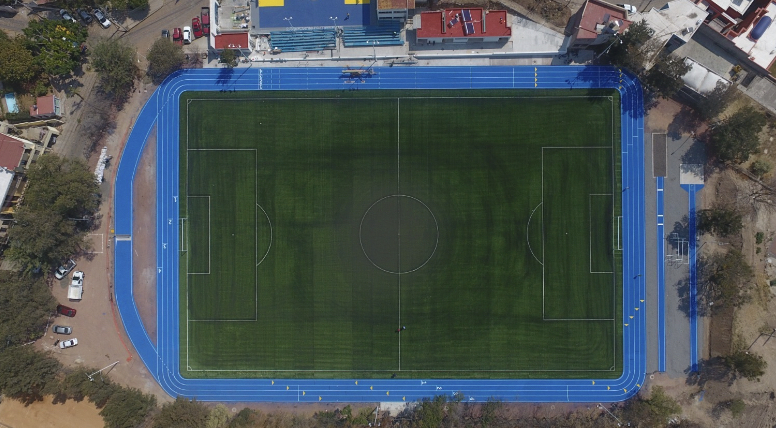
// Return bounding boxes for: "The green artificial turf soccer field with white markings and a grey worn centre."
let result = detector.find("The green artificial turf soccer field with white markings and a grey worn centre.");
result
[179,87,623,380]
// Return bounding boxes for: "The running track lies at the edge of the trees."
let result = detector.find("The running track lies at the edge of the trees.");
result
[114,64,646,403]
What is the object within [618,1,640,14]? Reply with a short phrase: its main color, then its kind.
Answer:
white vehicle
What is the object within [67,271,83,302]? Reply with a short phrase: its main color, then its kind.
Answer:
white vehicle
